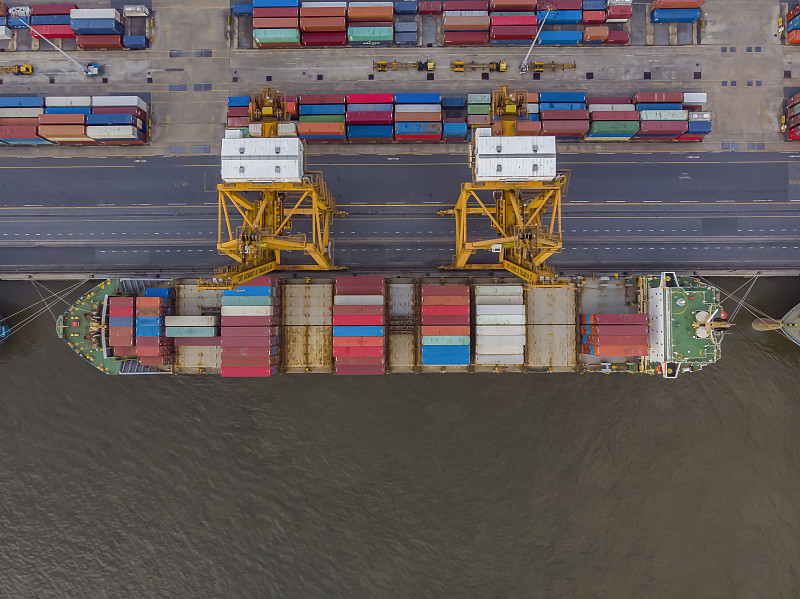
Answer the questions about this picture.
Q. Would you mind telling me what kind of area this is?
port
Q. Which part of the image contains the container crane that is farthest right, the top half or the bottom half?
top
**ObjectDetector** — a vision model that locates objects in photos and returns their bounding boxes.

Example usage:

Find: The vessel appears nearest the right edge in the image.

[752,298,800,341]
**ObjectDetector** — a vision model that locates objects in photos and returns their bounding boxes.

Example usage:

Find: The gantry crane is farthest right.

[438,87,576,291]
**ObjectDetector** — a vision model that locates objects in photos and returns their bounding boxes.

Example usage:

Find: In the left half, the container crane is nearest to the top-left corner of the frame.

[190,88,343,292]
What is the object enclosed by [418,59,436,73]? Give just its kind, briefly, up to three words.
vehicle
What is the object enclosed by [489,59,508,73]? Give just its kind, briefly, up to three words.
vehicle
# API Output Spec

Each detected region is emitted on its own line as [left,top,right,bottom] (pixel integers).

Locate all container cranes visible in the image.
[190,88,343,292]
[438,87,576,291]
